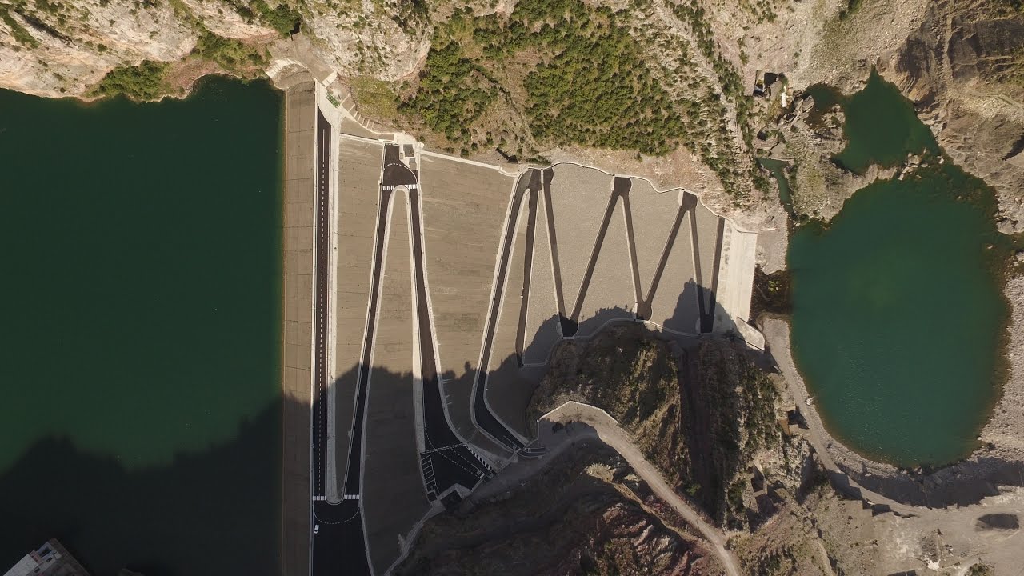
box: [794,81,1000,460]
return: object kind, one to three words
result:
pond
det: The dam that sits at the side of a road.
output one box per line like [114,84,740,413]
[272,78,765,576]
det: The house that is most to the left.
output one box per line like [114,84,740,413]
[1,534,101,576]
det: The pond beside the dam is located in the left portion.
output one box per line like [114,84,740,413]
[0,77,283,576]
